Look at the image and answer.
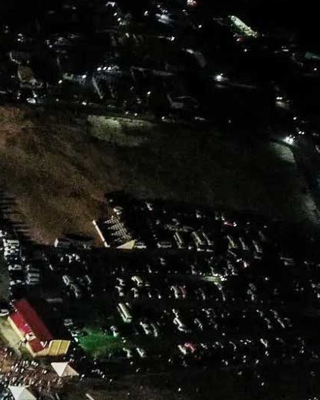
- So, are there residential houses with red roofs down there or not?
Yes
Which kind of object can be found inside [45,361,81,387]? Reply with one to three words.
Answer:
tent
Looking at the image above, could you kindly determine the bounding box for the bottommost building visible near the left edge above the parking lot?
[9,58,46,85]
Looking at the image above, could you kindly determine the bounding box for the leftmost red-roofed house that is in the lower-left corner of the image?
[0,299,67,361]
